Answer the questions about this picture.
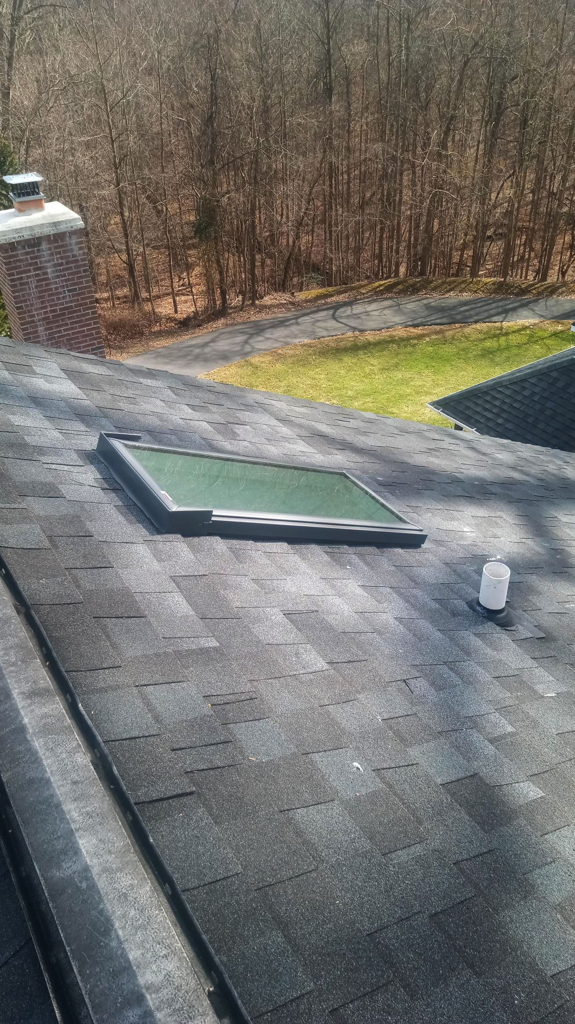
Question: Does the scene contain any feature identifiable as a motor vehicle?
No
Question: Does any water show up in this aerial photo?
No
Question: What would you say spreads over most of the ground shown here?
buildings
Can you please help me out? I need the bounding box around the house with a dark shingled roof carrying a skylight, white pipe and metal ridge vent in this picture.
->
[0,335,575,1024]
